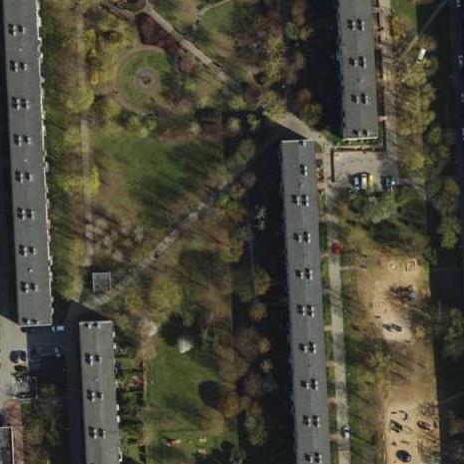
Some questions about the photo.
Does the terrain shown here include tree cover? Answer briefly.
Yes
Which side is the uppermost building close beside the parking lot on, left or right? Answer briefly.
left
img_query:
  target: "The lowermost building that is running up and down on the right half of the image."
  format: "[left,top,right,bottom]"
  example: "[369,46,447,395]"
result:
[279,140,333,464]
